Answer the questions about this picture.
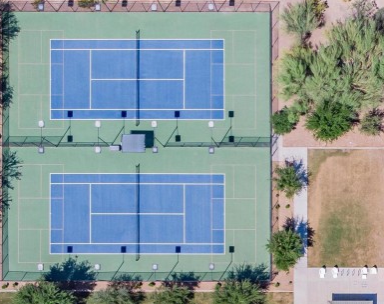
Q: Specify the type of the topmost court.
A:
tennis court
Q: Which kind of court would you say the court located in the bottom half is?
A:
tennis court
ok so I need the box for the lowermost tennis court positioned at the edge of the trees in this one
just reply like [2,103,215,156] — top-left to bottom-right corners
[1,147,271,279]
